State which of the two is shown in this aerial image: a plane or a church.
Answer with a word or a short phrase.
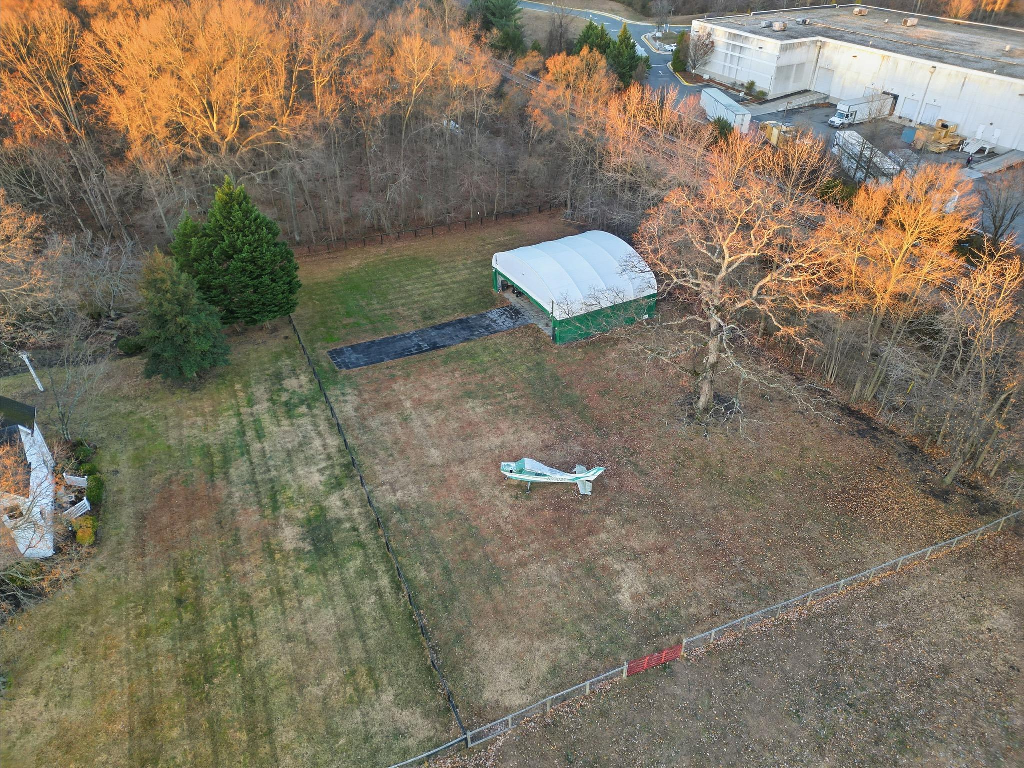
plane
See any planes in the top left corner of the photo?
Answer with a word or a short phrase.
No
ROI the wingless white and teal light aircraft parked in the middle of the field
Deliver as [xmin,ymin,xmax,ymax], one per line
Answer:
[501,457,619,496]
